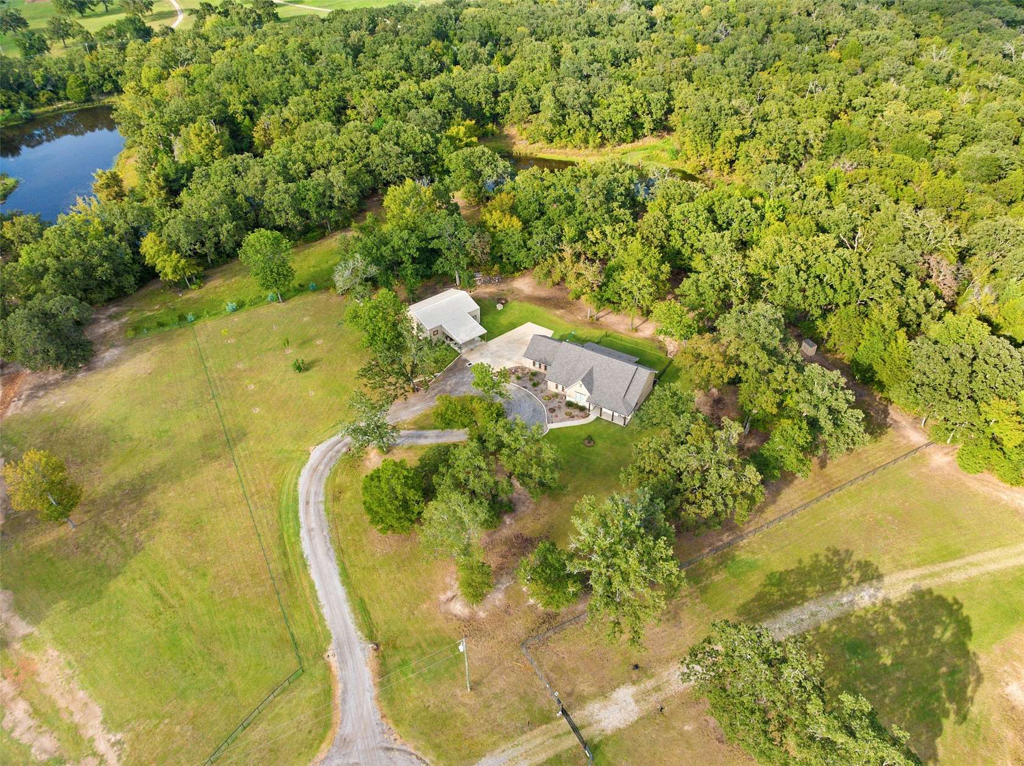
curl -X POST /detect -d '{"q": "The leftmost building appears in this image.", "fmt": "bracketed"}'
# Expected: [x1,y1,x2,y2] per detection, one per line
[405,287,487,354]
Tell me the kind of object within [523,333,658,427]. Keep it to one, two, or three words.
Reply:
house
